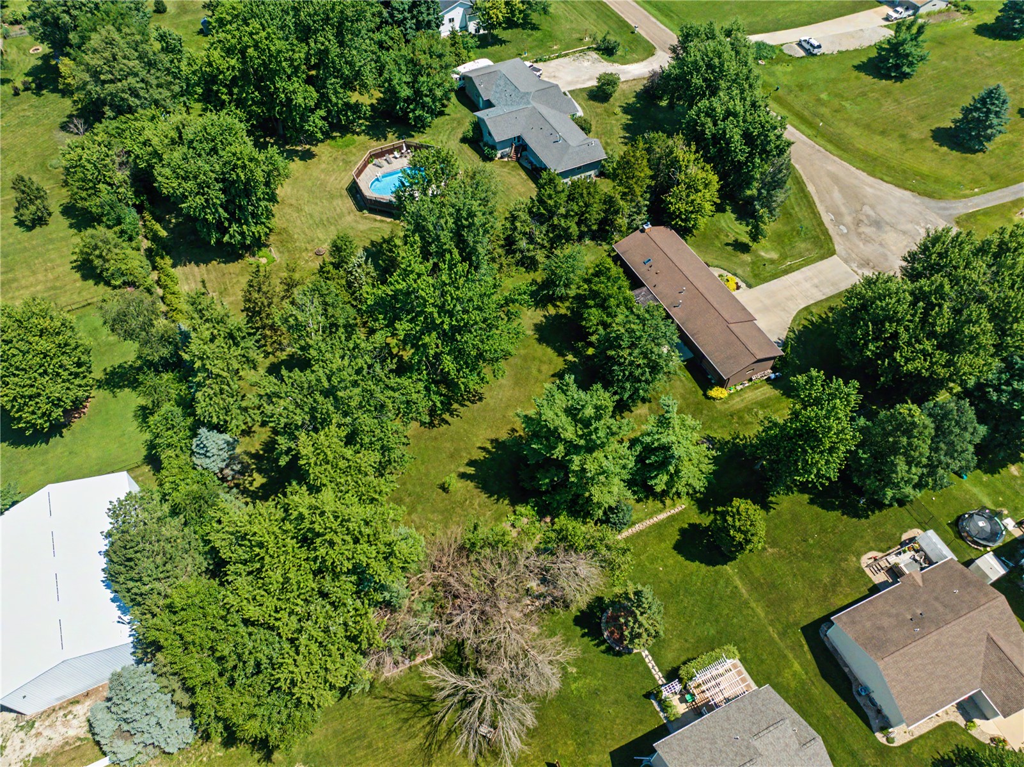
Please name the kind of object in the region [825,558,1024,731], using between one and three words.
house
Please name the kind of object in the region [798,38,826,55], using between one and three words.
car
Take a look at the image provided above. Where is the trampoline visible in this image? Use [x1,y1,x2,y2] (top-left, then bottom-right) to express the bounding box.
[955,503,1013,552]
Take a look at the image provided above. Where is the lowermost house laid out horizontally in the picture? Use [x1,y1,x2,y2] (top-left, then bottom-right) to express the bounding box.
[652,683,833,767]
